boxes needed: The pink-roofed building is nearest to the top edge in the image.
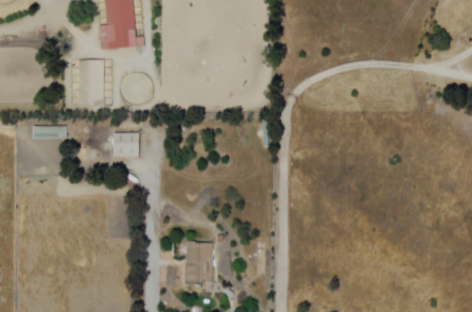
[99,0,146,48]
